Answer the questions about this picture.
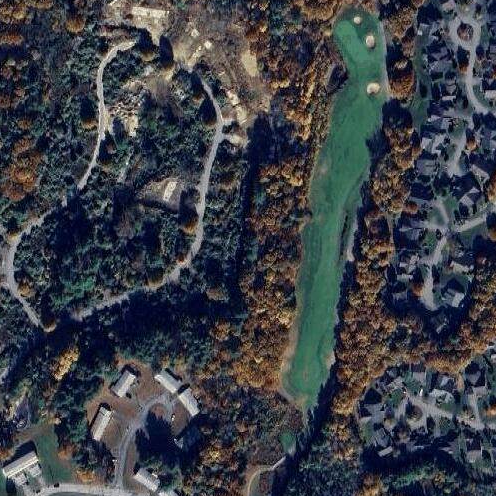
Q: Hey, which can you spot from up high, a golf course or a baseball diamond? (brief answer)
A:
golf course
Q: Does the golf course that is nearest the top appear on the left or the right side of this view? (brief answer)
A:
right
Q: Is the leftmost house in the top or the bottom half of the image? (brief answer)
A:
bottom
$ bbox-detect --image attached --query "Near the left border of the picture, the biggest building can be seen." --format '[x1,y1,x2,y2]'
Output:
[1,450,42,484]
